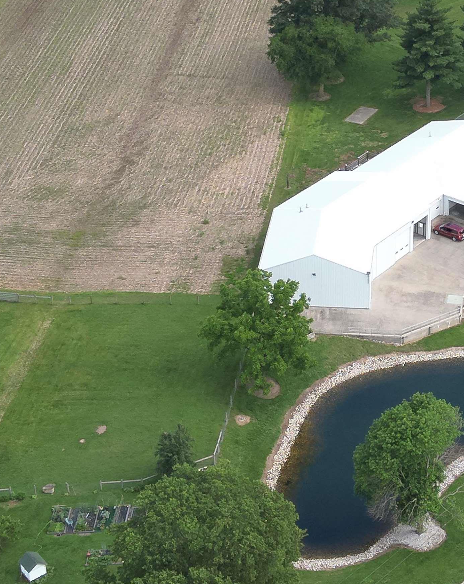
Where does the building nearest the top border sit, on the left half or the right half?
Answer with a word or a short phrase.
right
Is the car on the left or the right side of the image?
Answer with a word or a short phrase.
right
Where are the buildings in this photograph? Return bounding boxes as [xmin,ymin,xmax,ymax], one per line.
[257,118,464,309]
[19,550,47,580]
